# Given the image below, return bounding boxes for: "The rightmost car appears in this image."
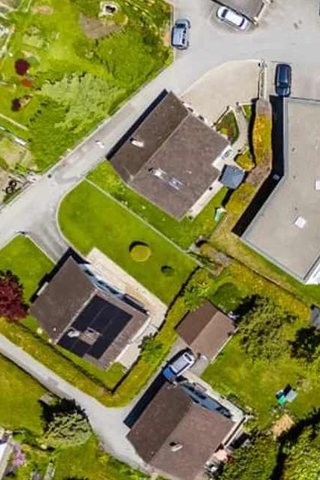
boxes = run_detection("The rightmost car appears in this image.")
[275,64,293,98]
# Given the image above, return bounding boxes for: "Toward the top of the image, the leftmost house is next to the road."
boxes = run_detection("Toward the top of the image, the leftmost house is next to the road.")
[107,90,239,222]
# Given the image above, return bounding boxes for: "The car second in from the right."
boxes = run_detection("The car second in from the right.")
[214,9,250,35]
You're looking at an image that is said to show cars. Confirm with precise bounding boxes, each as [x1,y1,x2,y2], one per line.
[214,9,250,35]
[163,348,200,382]
[275,64,293,98]
[173,18,191,51]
